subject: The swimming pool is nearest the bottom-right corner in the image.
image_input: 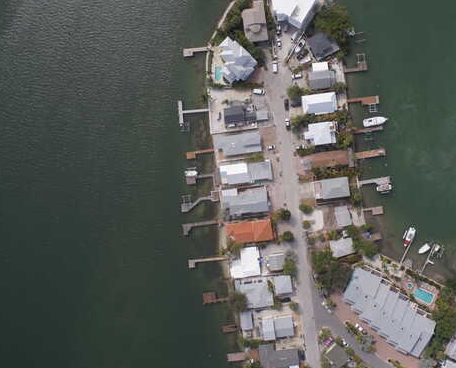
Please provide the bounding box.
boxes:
[413,284,435,307]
